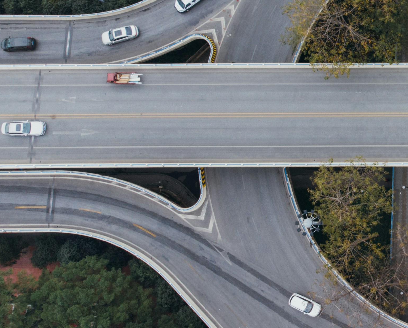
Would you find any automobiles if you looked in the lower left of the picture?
No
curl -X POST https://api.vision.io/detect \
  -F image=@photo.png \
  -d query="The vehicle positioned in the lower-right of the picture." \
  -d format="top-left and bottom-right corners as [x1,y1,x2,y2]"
[287,291,323,318]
